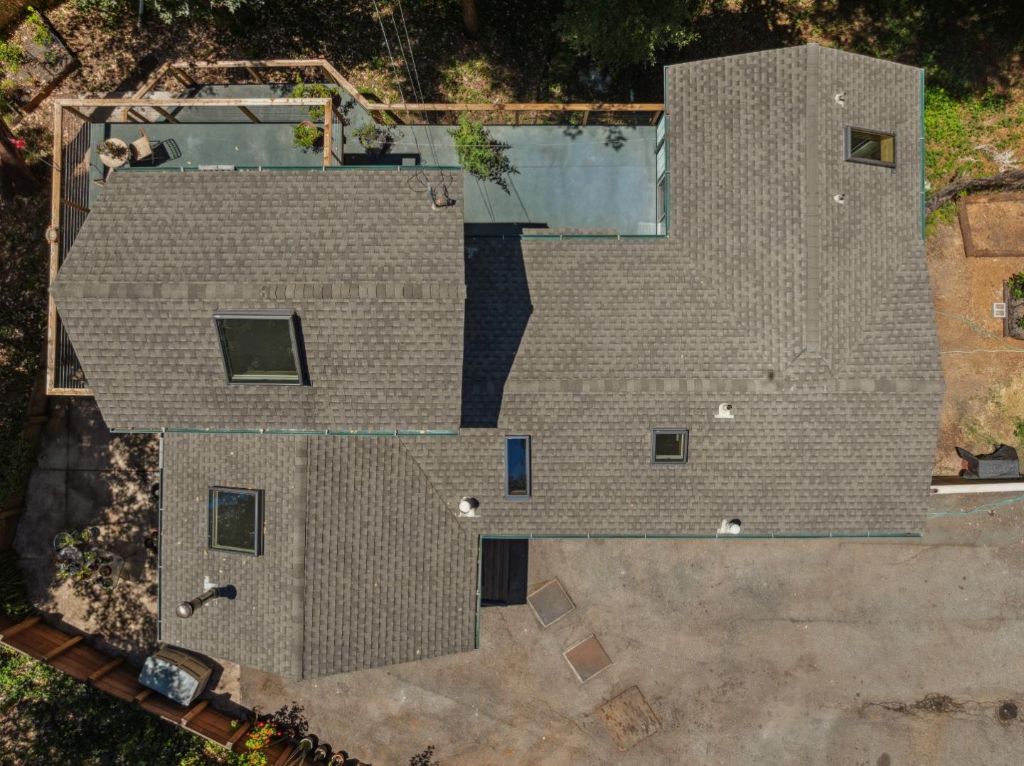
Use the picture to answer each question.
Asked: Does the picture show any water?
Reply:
No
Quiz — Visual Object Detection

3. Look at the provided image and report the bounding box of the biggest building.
[52,42,950,678]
